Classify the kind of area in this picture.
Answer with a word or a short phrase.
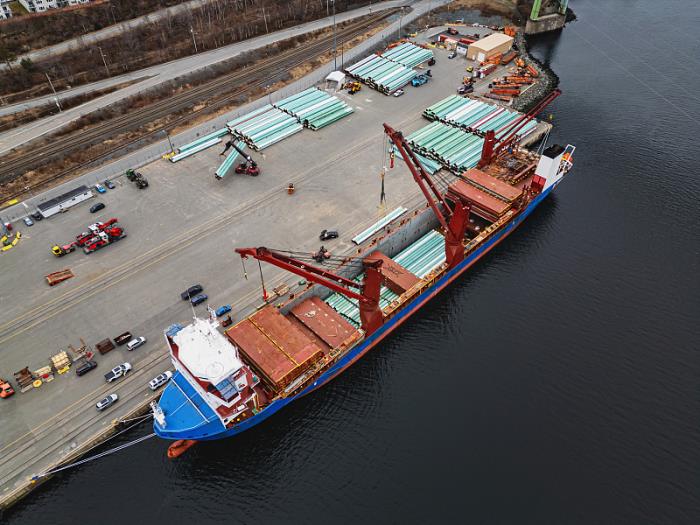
port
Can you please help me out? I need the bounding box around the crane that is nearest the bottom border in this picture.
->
[235,247,383,332]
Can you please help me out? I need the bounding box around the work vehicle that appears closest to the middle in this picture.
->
[317,228,334,243]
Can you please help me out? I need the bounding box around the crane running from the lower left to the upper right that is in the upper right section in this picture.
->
[473,92,558,173]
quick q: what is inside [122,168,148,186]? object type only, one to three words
work vehicle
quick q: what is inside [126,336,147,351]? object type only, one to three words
car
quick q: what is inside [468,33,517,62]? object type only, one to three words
building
